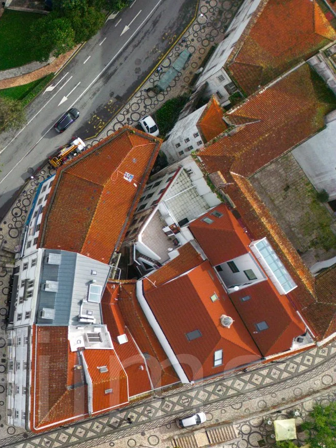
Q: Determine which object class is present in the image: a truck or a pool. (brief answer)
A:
truck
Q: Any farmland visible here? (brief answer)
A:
No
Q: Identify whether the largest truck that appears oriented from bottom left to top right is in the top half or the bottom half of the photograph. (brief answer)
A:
top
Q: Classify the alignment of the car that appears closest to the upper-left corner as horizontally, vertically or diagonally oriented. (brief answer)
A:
diagonally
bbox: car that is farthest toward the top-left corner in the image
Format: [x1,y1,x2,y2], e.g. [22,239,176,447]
[52,107,78,135]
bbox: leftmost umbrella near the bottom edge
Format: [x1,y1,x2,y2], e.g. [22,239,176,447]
[270,418,294,441]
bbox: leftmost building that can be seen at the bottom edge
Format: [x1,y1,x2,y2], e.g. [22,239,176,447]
[11,325,90,433]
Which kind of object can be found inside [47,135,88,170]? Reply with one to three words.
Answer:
truck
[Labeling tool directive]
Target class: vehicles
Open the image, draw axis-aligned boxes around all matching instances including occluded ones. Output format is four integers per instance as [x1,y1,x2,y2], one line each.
[138,112,158,137]
[52,107,78,135]
[176,412,205,429]
[47,135,88,170]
